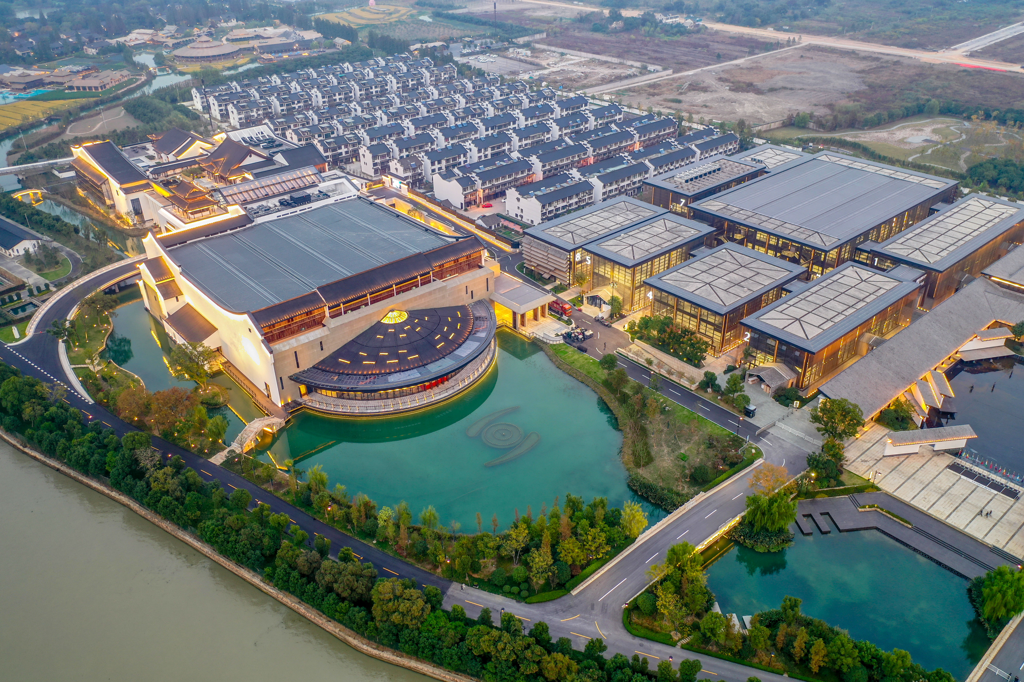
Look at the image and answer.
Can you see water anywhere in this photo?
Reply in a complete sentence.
Yes, water shows up in the scene.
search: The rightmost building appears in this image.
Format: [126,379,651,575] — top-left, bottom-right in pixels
[980,253,1024,303]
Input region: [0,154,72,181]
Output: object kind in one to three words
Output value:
bridge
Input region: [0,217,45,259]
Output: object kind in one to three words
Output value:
building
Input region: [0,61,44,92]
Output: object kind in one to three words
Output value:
house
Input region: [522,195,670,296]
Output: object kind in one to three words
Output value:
building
